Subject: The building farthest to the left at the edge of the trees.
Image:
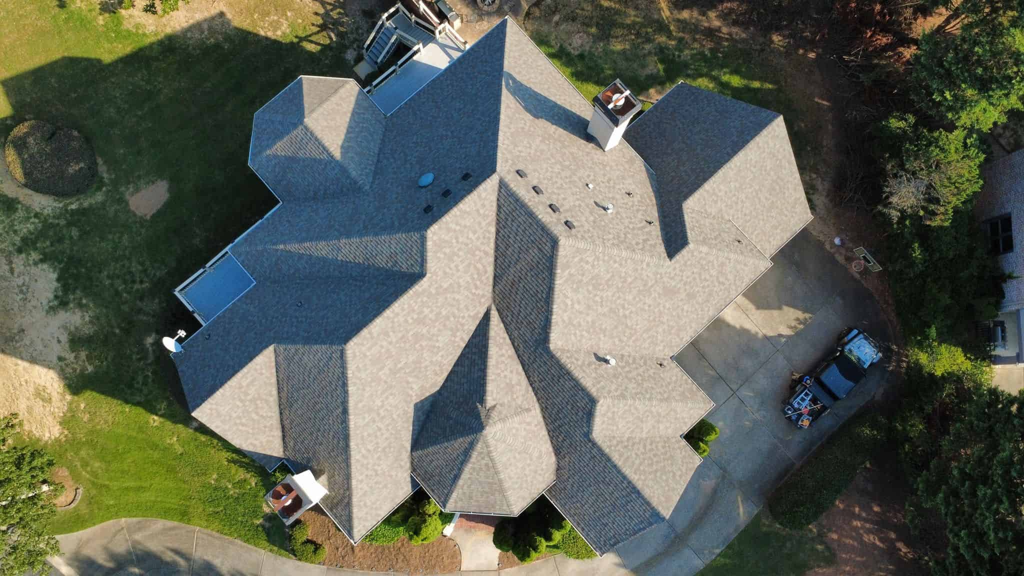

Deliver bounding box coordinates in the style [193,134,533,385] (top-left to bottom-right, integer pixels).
[168,13,815,560]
